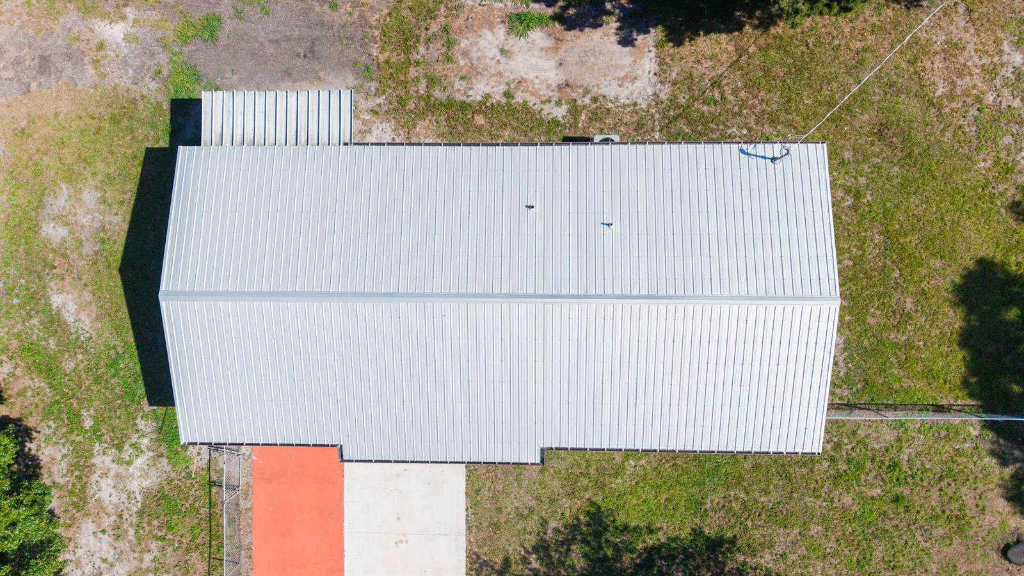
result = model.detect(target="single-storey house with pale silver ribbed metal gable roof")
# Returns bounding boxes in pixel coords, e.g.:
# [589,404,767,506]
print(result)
[158,133,842,466]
